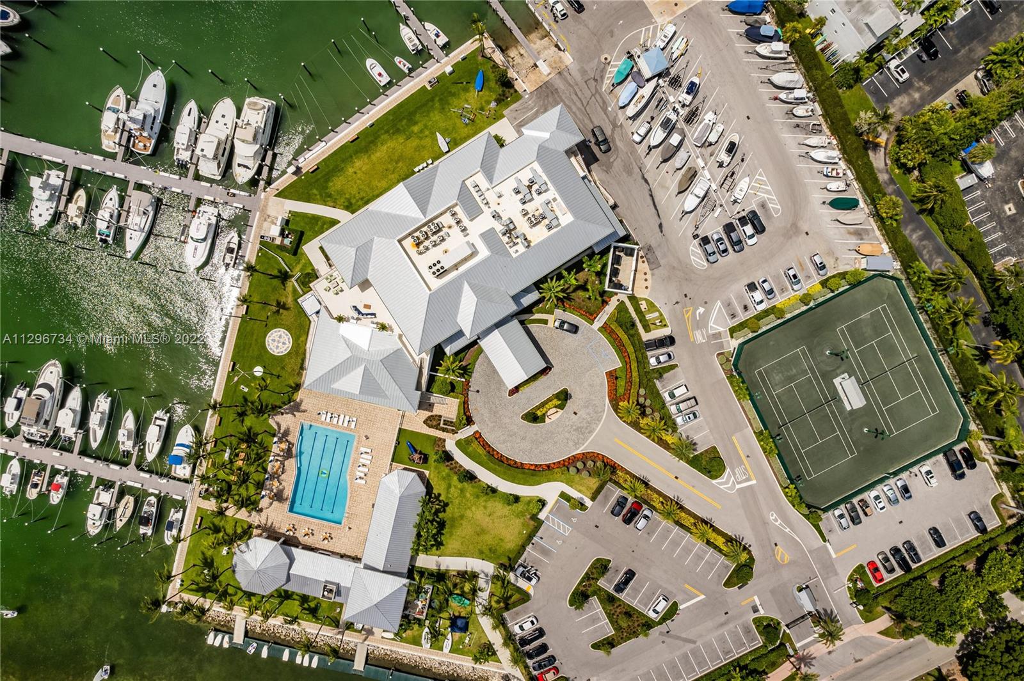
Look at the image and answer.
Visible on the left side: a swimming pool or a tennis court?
swimming pool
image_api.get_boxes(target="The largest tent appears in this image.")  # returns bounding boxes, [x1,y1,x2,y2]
[634,44,670,81]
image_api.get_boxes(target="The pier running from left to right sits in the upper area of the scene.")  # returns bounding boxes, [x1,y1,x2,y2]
[0,130,259,210]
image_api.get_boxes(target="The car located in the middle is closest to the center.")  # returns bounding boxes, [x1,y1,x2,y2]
[554,320,580,335]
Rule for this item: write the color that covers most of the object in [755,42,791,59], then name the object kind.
white boat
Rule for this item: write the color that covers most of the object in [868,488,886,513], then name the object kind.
white car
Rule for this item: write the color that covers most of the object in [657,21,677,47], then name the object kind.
white boat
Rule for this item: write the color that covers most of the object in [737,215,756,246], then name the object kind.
white vehicle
